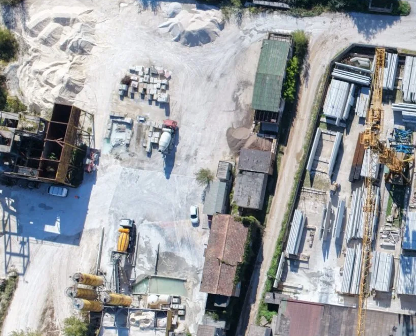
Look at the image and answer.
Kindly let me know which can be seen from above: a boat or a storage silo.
storage silo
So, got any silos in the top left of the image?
No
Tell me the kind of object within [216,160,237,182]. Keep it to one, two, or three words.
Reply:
shed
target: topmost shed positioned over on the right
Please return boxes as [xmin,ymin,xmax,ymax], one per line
[252,32,297,131]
